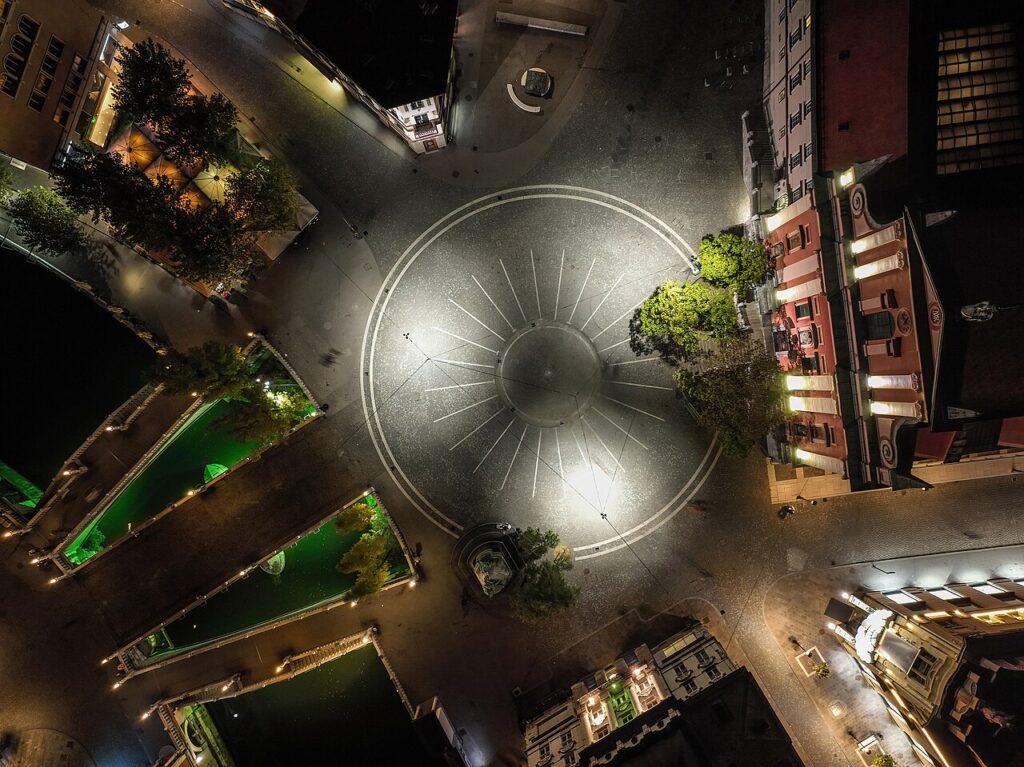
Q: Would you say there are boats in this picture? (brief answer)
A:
No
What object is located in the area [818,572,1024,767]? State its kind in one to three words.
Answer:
building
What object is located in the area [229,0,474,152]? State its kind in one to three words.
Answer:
house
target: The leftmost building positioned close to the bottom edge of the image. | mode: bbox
[525,622,817,767]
